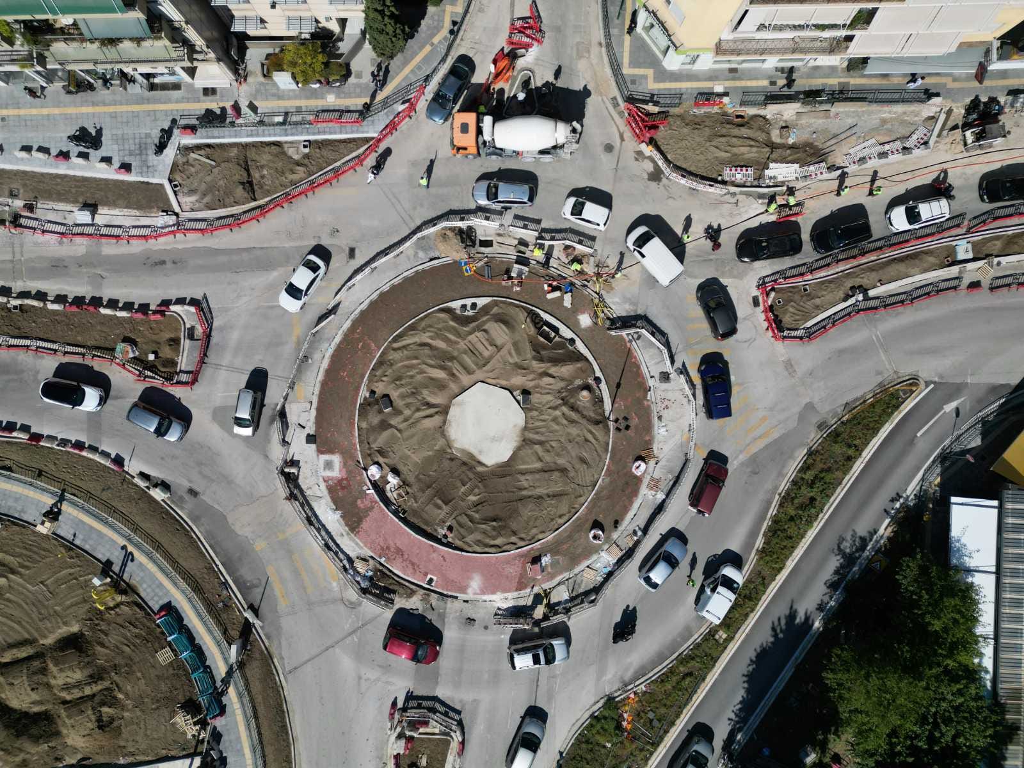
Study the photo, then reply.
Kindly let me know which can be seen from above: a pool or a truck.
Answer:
truck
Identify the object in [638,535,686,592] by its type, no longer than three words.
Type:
car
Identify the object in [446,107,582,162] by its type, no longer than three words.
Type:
truck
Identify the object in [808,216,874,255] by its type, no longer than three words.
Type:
car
